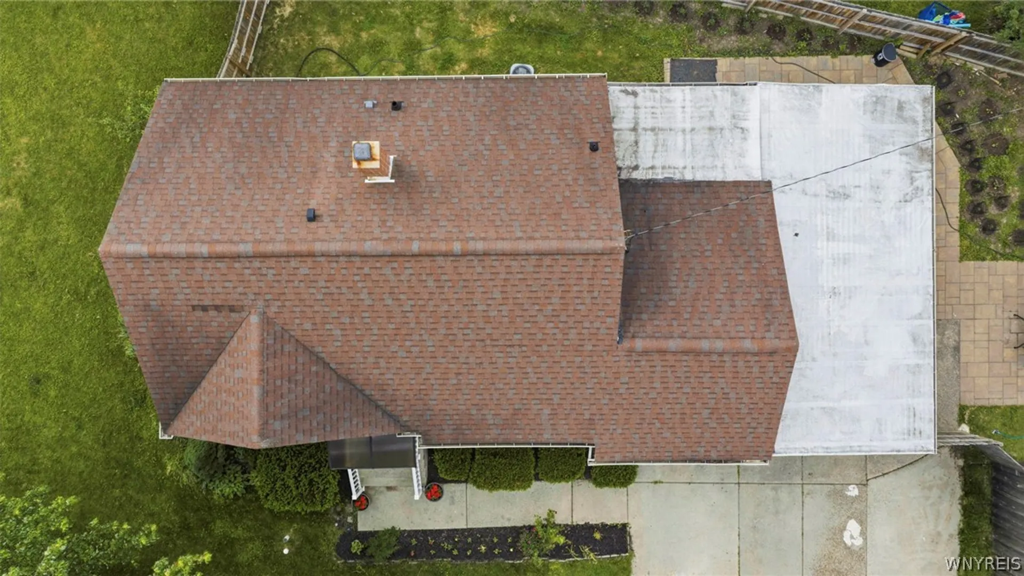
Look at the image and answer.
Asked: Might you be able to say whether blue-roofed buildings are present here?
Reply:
No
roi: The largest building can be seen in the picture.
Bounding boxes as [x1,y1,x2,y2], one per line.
[97,75,937,468]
